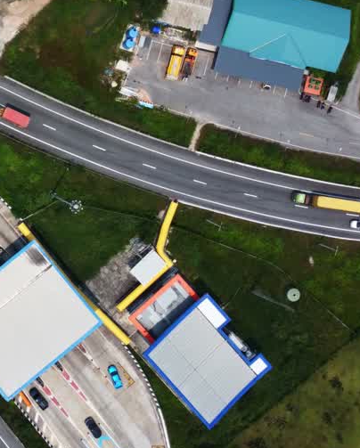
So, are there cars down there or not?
Yes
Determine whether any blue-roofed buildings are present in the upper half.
Yes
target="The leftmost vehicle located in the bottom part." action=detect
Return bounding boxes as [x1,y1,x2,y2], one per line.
[30,388,48,409]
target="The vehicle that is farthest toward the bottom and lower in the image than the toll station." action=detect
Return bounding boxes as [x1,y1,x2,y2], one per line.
[85,416,103,439]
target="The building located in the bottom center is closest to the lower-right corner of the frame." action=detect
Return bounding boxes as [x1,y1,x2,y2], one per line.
[138,291,272,428]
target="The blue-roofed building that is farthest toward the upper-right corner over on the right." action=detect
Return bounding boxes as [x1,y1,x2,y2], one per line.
[196,0,351,91]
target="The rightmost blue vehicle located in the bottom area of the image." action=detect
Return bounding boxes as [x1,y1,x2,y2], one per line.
[108,366,123,388]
